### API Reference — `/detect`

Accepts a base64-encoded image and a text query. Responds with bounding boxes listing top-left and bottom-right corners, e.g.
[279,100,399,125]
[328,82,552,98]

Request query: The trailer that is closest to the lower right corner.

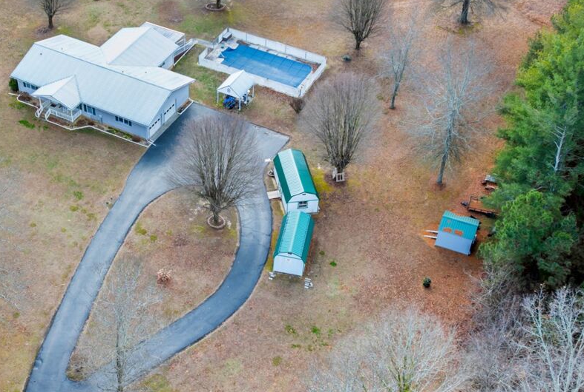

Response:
[457,193,511,224]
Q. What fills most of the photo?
grass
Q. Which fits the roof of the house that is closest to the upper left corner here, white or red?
white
